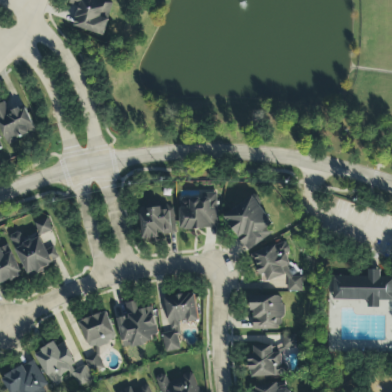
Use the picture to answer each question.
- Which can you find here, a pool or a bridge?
pool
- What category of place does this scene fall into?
residential area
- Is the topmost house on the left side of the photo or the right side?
left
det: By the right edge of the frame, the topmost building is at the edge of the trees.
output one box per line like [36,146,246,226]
[330,268,392,306]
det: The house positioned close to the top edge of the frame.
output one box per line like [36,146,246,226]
[70,0,117,36]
